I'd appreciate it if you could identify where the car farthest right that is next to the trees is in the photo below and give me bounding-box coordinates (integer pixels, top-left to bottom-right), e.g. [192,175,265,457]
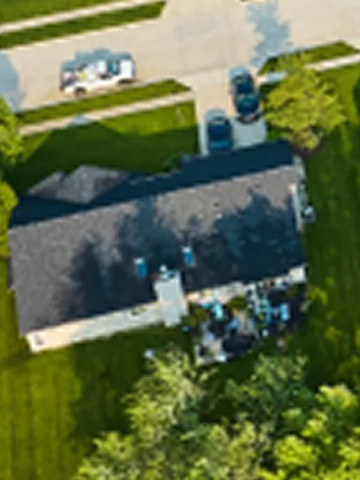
[229,70,262,126]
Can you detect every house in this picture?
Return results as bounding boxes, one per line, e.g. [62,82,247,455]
[6,124,316,352]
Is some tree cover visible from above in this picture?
Yes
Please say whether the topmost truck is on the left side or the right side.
left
